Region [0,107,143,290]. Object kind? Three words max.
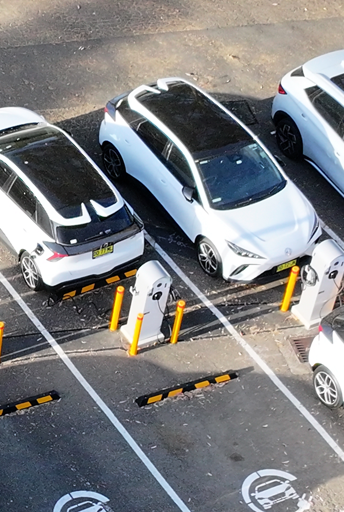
car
